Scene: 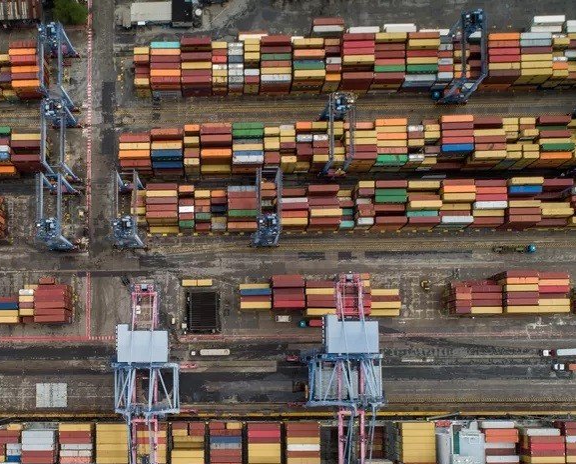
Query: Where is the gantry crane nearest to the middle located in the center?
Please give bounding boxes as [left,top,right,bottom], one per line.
[251,168,285,248]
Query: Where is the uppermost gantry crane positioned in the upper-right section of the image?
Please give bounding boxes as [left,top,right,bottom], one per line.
[442,7,488,101]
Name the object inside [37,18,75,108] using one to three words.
container crane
